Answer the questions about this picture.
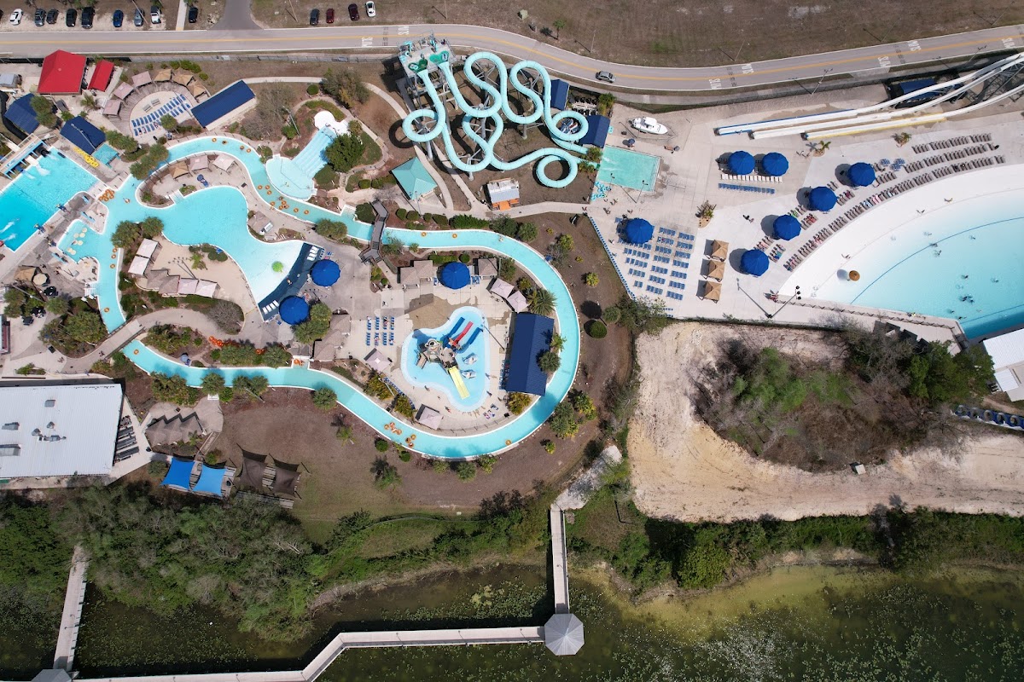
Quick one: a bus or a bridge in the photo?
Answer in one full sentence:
The one in the frame is a bridge.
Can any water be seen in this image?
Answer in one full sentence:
Yes, there's water in this view.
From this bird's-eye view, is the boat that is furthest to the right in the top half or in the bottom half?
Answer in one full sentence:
Seen from above, the boat that is furthest to the right lies in the top half of the view.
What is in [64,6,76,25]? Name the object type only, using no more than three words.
vehicle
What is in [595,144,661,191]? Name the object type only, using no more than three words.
swimming pool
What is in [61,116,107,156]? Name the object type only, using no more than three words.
building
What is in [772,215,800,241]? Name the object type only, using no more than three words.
umbrella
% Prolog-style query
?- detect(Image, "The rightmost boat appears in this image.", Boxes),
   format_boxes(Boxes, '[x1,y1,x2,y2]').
[629,112,669,132]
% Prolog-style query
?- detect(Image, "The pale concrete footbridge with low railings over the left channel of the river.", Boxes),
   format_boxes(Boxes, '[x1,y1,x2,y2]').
[101,317,139,353]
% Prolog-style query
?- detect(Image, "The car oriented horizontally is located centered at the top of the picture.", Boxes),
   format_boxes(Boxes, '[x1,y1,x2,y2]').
[595,69,617,81]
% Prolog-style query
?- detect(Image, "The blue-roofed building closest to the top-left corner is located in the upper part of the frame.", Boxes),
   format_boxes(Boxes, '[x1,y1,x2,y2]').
[5,93,53,137]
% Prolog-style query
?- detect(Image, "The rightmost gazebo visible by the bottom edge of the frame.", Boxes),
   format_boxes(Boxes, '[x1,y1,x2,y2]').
[545,614,582,655]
